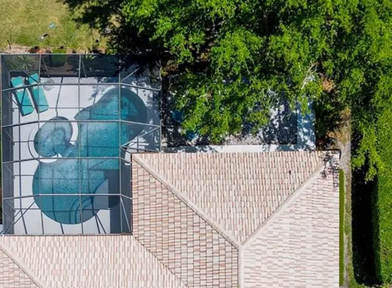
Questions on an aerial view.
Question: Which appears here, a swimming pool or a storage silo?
swimming pool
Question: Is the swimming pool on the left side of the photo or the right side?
left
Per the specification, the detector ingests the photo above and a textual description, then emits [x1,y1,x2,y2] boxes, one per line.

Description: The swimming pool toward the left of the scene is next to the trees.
[27,84,152,228]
